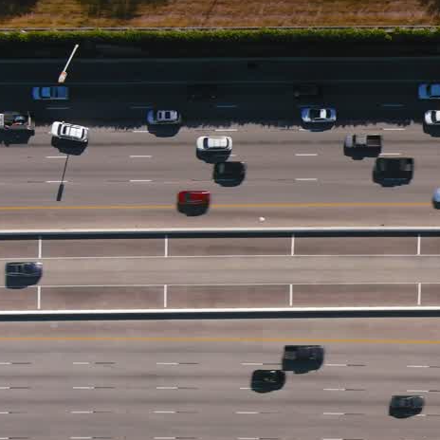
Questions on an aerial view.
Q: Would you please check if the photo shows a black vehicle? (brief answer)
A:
Yes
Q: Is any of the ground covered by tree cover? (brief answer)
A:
No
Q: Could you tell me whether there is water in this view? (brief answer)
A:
No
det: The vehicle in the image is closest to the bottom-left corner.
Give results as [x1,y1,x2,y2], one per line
[6,261,45,276]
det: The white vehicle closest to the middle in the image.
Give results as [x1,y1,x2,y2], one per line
[197,135,235,151]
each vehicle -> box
[148,108,184,125]
[282,345,325,362]
[253,371,286,385]
[301,108,337,122]
[376,159,415,176]
[179,189,212,205]
[391,396,425,409]
[6,261,45,276]
[434,189,440,202]
[33,84,71,101]
[217,162,248,177]
[345,132,383,148]
[419,82,440,98]
[197,135,235,151]
[51,122,91,141]
[426,109,440,125]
